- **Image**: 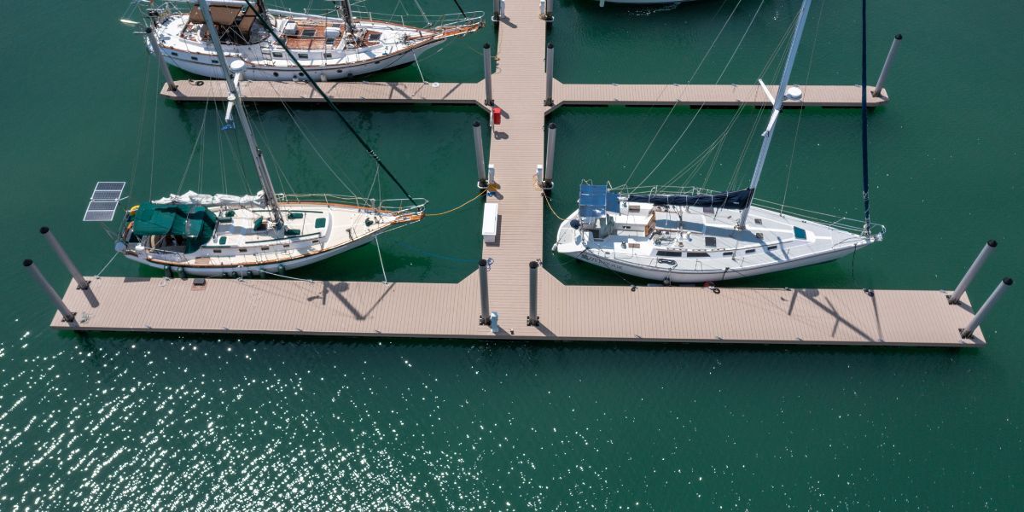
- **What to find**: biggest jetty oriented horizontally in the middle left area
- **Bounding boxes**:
[50,271,478,339]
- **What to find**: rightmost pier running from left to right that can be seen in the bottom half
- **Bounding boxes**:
[542,268,986,349]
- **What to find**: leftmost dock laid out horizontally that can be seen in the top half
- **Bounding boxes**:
[163,74,495,114]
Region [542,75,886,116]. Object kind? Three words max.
pier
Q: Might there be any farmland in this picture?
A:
No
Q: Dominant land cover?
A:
water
